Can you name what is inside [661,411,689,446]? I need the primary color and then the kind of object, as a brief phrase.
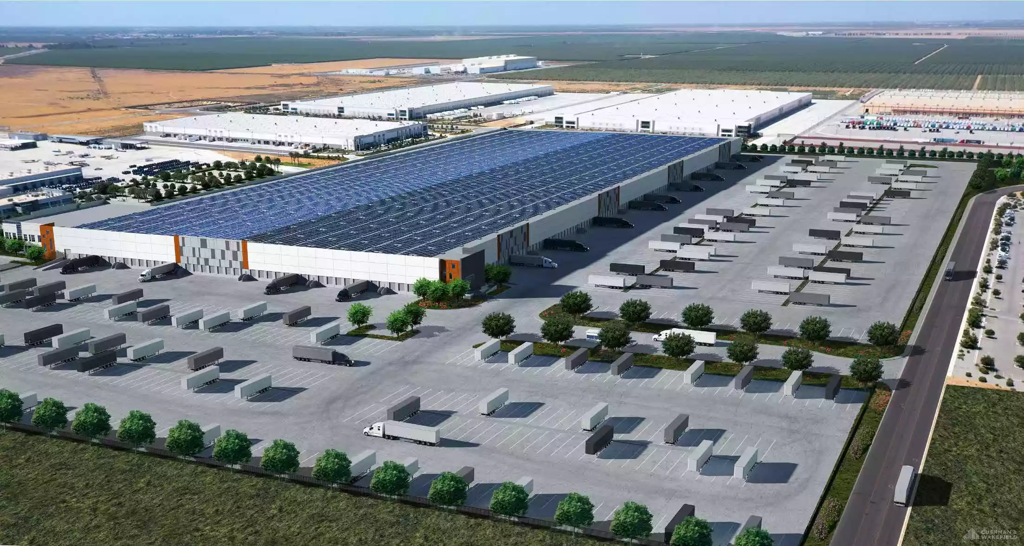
gray trailer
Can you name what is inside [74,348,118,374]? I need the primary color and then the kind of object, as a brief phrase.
black trailer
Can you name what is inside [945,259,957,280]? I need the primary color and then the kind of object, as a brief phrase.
gray vehicle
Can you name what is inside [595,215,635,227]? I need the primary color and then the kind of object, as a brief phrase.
black vehicle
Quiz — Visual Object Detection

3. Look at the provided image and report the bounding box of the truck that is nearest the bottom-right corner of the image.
[893,460,917,505]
